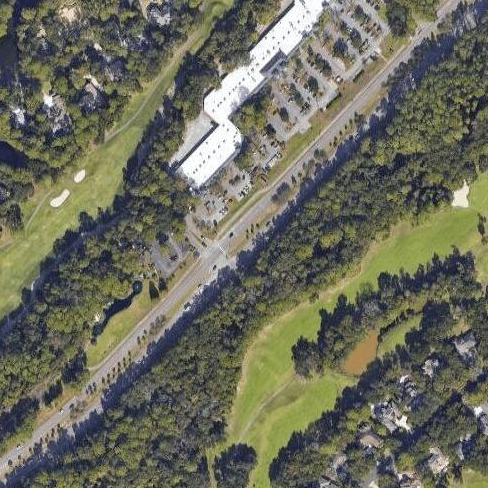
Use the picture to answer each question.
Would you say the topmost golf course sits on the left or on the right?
left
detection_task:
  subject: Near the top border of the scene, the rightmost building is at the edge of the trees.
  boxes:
[180,0,333,190]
